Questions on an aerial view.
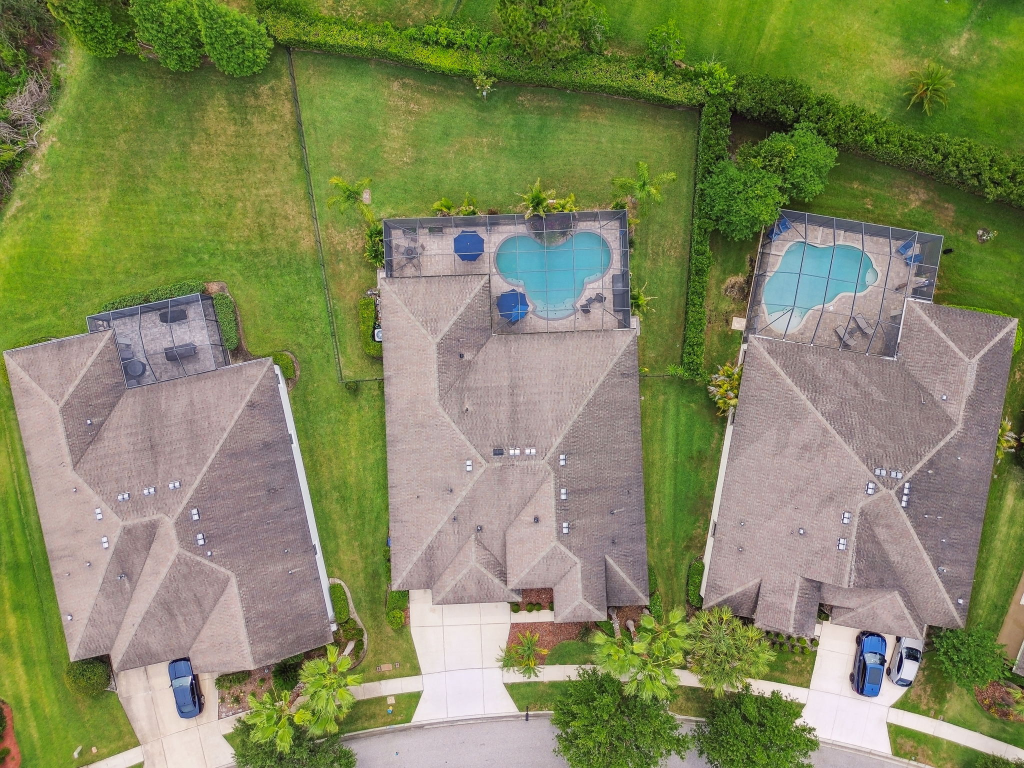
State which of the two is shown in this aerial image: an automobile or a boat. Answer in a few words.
automobile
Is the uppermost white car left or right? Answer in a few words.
right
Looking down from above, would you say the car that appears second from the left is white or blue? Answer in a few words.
blue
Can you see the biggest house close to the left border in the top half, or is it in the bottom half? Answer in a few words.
bottom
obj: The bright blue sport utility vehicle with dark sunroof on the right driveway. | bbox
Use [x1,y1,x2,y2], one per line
[848,628,889,697]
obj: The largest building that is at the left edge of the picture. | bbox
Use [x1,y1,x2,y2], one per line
[4,327,337,673]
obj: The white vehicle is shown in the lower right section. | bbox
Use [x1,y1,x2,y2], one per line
[889,625,931,688]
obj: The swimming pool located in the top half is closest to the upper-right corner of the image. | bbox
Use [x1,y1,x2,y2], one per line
[761,237,883,335]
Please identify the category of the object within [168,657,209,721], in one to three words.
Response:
car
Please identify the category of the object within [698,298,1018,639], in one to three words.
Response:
house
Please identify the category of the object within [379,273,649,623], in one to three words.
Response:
house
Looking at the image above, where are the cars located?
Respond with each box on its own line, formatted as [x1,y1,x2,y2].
[168,657,209,721]
[889,625,931,688]
[848,628,889,697]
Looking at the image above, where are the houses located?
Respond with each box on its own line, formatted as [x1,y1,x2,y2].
[4,327,337,673]
[698,298,1018,639]
[992,578,1024,675]
[379,273,649,623]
